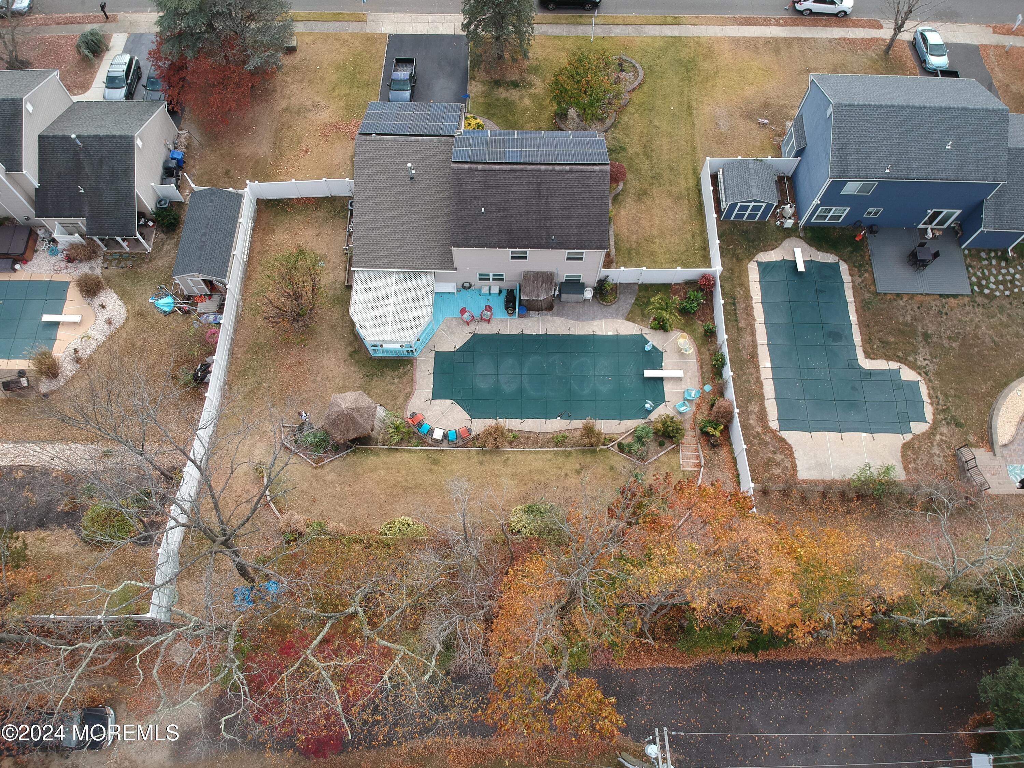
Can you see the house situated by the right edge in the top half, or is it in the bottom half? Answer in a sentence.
It is in the top half that the house situated by the right edge appears.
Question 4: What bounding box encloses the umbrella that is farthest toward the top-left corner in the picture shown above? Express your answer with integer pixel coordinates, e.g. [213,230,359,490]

[155,296,196,311]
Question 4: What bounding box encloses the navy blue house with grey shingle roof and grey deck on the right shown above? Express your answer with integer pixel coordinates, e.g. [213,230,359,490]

[779,71,1024,265]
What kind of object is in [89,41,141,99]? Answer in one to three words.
car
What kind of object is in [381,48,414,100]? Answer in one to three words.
truck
